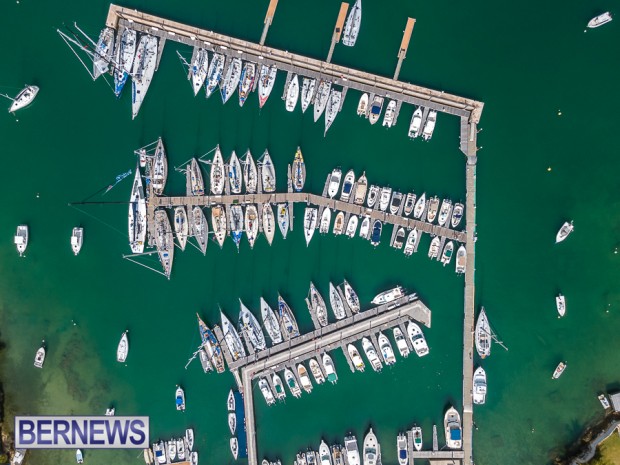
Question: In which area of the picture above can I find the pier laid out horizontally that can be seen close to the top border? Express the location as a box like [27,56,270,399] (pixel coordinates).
[105,4,484,124]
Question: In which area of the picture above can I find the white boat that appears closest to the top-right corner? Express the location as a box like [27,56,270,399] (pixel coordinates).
[586,12,612,30]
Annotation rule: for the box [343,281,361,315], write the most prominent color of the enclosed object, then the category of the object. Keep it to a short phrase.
white boat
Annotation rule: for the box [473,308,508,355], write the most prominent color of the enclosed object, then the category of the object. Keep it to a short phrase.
white boat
